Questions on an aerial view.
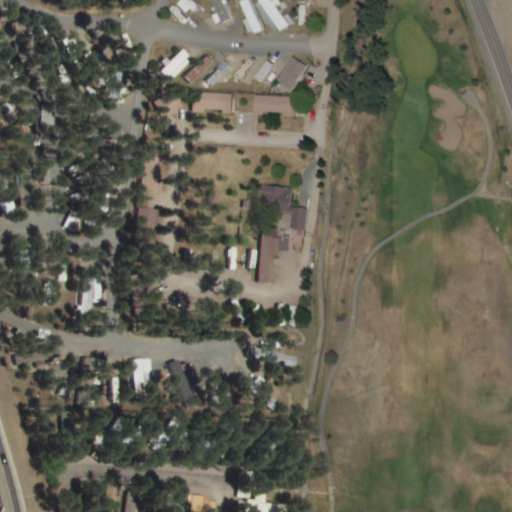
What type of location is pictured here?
golf course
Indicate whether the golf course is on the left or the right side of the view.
right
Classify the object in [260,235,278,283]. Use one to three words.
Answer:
building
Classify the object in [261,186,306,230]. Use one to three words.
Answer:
house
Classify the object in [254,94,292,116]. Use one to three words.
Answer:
building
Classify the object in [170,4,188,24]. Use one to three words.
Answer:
camper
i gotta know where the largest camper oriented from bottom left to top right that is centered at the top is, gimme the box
[234,58,253,79]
